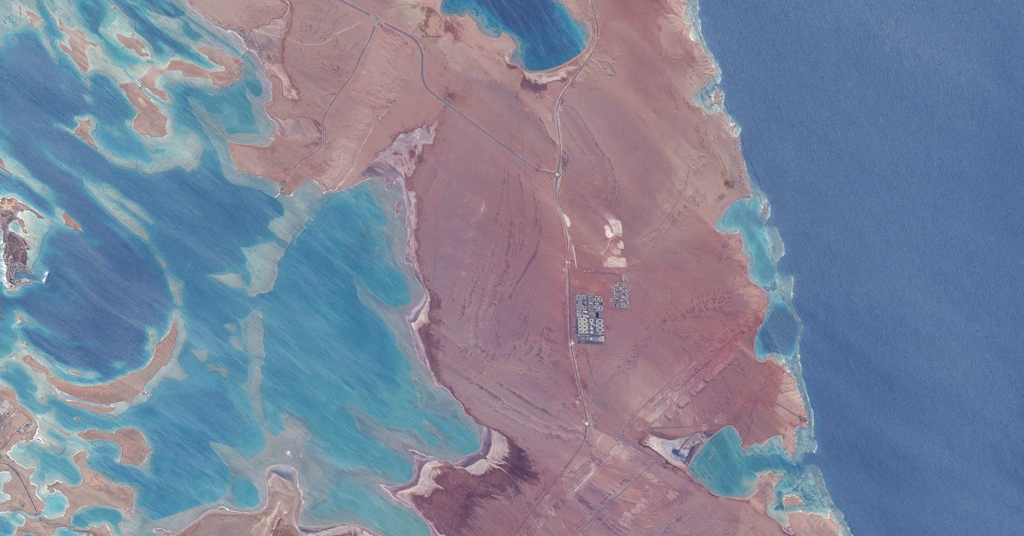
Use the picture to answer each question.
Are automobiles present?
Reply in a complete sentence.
No, no automobile can be seen from above.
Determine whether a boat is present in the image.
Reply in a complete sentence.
No, the picture doesn't show any boat.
